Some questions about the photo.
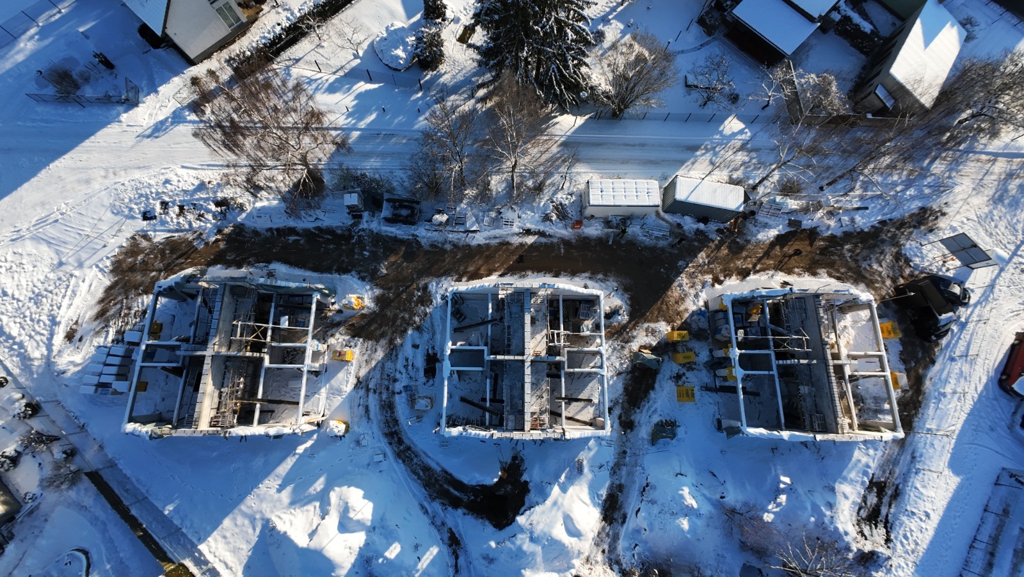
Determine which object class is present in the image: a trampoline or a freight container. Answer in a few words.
freight container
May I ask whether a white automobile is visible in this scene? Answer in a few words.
No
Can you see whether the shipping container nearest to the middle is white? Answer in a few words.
Yes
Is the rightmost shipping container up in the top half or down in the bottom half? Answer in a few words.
top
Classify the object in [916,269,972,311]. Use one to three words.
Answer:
car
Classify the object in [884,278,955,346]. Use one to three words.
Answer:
van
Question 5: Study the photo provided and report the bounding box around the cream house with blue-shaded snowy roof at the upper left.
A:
[125,0,265,65]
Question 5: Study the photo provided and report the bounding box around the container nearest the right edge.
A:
[667,175,748,222]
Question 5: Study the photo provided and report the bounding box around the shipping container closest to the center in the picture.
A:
[584,179,660,219]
